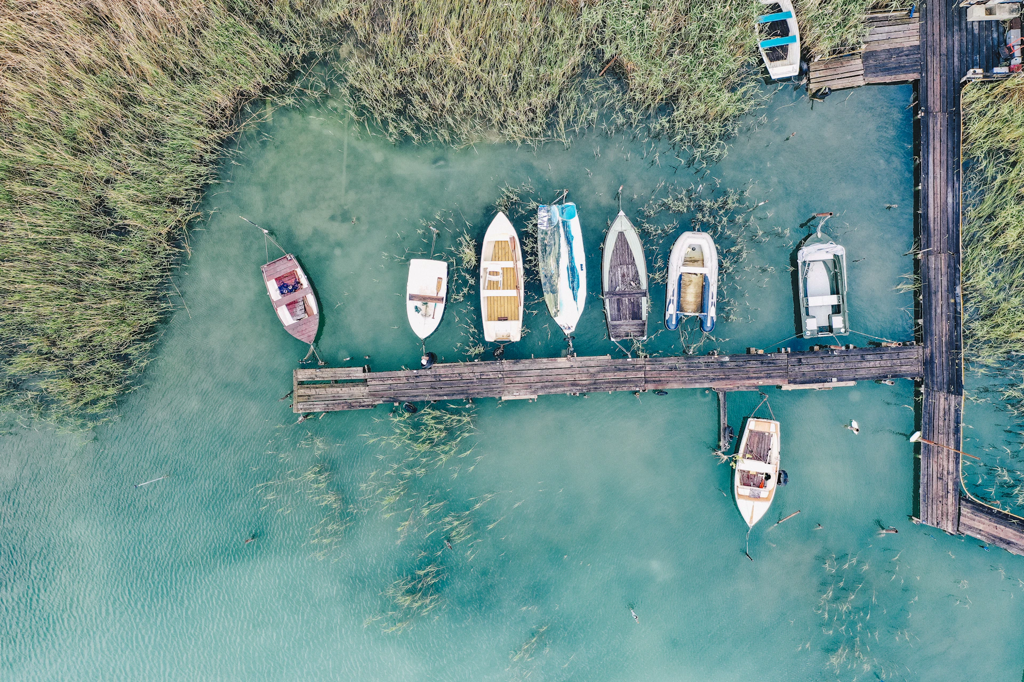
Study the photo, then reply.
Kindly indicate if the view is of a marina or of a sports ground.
marina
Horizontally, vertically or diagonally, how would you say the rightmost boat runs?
vertically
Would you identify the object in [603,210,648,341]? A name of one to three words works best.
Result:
boat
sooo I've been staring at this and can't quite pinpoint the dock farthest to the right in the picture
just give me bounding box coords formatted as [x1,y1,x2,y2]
[958,498,1024,557]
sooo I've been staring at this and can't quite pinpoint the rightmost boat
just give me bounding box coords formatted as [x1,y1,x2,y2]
[796,231,849,339]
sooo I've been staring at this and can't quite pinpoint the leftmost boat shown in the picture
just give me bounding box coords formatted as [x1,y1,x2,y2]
[261,254,320,344]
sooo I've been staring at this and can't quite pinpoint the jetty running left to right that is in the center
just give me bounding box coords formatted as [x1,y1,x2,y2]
[293,346,923,413]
